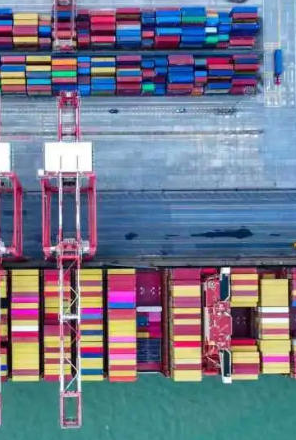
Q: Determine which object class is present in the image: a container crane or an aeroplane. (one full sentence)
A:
Of the two, only a container crane appears.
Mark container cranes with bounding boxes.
[0,90,27,430]
[36,90,96,430]
[53,0,76,56]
